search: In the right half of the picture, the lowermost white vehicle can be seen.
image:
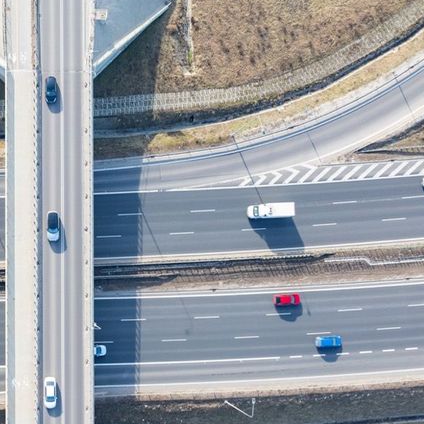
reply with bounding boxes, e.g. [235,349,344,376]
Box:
[244,202,298,218]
